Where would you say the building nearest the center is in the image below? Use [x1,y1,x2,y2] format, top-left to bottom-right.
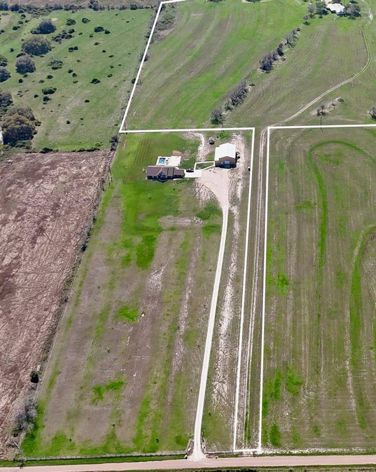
[146,163,189,184]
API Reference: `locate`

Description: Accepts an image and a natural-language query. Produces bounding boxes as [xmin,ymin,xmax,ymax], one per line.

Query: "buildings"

[146,163,189,184]
[213,141,238,167]
[327,0,348,14]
